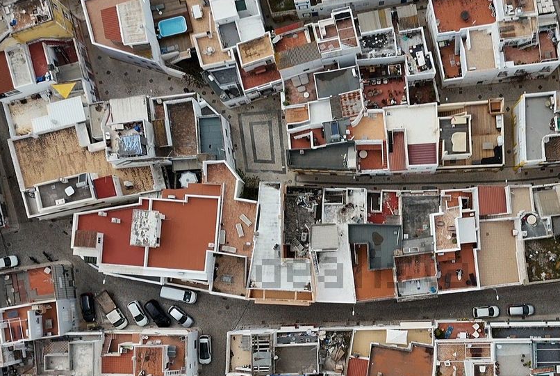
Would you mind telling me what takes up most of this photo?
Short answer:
buildings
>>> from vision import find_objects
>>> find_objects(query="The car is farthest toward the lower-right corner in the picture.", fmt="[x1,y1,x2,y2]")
[506,304,534,318]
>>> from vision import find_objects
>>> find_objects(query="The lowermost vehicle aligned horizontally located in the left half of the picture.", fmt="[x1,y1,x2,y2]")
[159,284,198,303]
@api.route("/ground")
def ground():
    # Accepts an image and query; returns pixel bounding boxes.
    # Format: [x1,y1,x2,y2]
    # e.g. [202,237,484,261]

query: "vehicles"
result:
[97,291,126,327]
[128,299,149,327]
[27,256,39,265]
[471,305,500,318]
[168,303,192,328]
[506,304,534,318]
[145,298,171,328]
[40,251,51,262]
[80,293,97,321]
[159,284,198,303]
